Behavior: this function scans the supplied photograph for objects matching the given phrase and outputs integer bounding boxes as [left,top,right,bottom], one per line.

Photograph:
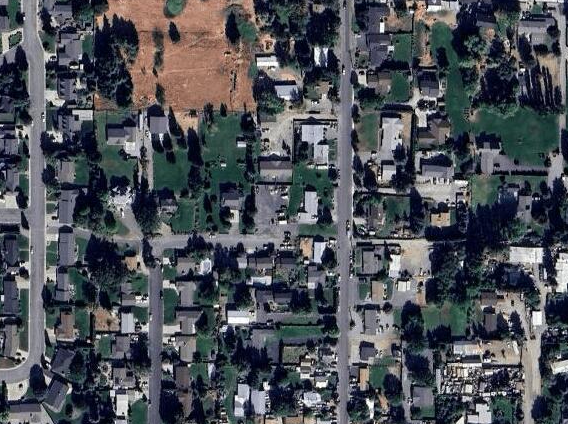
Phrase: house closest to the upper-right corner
[518,17,554,44]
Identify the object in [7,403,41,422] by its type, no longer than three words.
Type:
house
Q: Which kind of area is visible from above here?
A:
residential area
